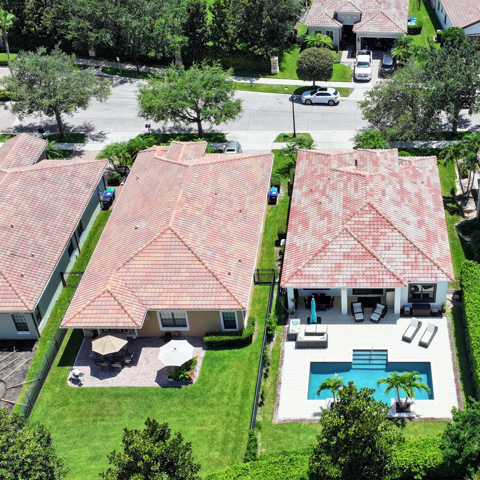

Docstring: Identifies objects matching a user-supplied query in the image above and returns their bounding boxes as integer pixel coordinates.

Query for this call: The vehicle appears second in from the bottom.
[302,89,341,108]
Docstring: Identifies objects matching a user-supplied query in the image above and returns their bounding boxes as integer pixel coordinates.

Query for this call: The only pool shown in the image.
[308,350,434,400]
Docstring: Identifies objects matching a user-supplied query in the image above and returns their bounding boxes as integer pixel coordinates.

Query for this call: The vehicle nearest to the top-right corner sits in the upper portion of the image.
[379,53,397,77]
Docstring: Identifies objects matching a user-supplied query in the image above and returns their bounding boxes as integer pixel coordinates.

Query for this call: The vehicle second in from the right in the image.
[354,54,374,83]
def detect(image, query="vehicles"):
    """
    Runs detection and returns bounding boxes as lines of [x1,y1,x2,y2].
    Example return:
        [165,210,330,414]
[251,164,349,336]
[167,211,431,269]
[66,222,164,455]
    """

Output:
[354,54,374,83]
[379,53,397,77]
[302,89,341,108]
[222,137,241,153]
